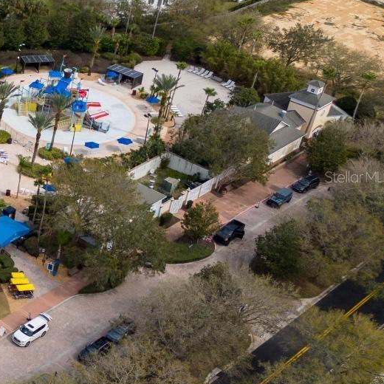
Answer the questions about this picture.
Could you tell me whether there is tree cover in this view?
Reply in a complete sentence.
Yes, some tree cover is visible.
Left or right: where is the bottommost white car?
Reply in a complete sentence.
The bottommost white car sits on the left side.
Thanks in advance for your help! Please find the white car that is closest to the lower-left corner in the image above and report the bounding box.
[10,306,58,348]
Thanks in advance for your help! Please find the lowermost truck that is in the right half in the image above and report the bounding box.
[214,214,251,243]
